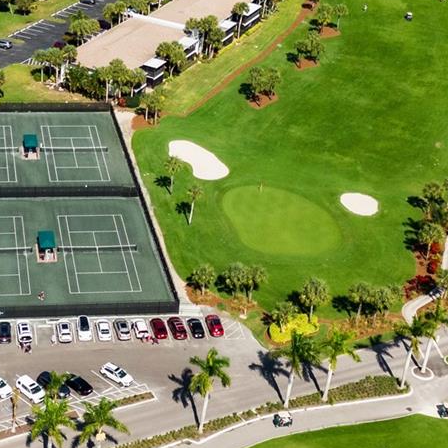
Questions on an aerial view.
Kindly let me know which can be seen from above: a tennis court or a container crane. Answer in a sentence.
The image shows a tennis court.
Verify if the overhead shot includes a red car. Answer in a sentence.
Yes, there is a red car in the image.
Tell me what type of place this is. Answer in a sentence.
What you see here is a golf course.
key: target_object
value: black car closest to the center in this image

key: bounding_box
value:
[186,317,205,341]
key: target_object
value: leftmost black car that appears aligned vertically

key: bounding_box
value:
[0,320,12,345]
